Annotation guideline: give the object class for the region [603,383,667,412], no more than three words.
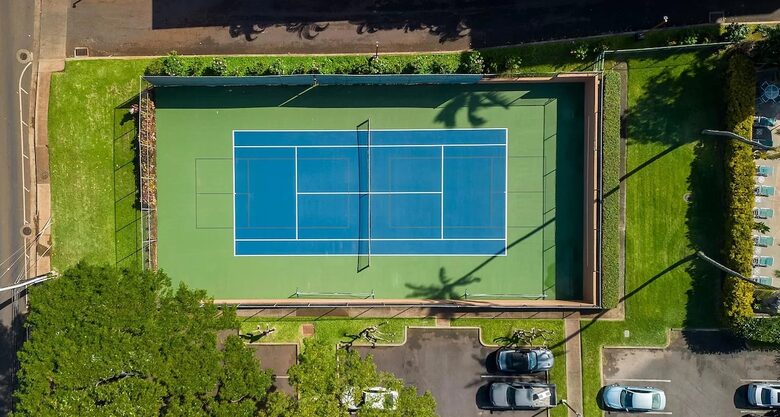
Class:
car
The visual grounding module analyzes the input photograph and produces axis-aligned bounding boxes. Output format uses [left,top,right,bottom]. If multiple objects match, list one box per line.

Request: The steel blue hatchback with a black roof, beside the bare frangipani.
[497,347,553,375]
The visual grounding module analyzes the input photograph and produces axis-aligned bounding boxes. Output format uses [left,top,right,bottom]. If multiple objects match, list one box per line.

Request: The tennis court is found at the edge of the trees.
[157,82,583,298]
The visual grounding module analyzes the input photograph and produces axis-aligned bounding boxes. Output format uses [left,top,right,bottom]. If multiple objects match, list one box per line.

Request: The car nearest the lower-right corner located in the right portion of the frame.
[744,383,780,412]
